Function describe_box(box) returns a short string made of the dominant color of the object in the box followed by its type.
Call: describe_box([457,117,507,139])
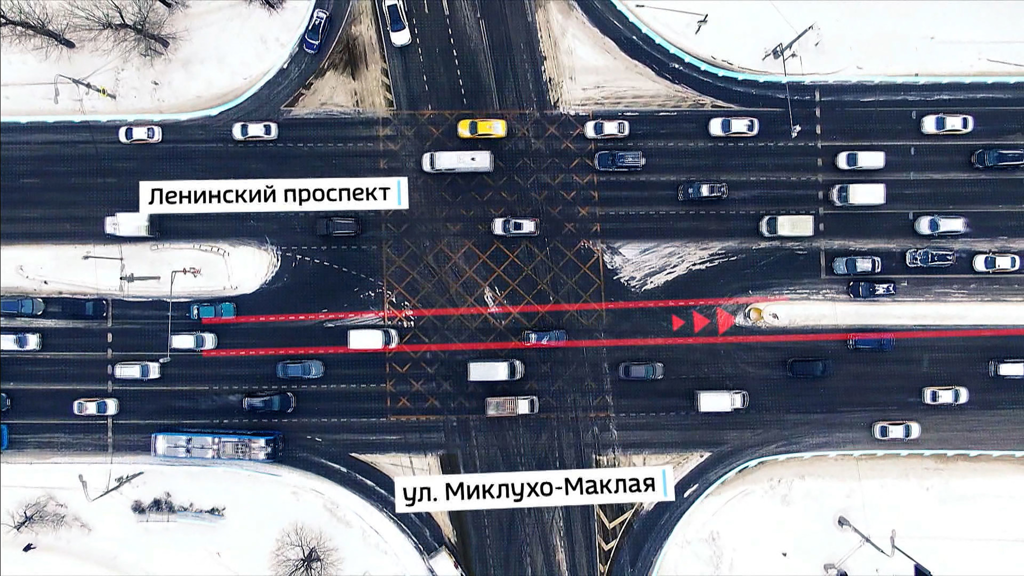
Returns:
yellow car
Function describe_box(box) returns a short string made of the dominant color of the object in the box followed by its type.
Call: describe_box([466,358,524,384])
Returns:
white vehicle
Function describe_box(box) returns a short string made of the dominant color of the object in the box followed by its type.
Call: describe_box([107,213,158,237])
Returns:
white truck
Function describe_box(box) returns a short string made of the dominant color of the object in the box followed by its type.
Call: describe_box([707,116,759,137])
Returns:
white car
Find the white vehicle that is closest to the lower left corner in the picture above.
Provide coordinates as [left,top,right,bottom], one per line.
[71,397,121,418]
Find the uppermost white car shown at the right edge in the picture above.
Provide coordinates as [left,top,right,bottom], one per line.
[919,113,974,134]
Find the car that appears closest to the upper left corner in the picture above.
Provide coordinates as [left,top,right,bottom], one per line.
[118,123,164,145]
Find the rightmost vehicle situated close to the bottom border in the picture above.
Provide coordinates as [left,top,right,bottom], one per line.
[433,539,477,576]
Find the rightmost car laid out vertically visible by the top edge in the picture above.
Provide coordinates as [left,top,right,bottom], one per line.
[383,0,410,49]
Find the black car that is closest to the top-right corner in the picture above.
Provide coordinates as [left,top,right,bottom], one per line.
[968,148,1024,170]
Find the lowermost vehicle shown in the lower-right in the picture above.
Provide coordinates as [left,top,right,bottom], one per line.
[870,420,920,441]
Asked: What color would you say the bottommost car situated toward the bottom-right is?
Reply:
white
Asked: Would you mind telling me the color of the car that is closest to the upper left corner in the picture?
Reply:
white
